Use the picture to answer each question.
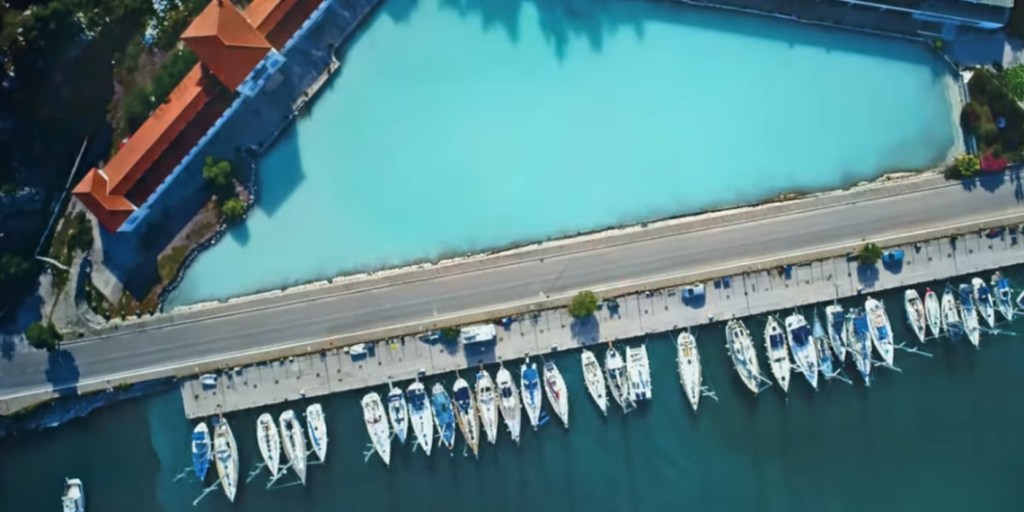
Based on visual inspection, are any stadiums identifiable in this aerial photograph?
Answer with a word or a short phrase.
No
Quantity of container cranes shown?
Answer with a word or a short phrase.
0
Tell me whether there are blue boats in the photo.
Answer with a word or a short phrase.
Yes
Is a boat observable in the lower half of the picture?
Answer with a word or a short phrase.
Yes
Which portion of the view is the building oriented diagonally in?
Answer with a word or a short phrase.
top left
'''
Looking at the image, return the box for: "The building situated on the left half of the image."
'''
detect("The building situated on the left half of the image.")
[73,0,342,232]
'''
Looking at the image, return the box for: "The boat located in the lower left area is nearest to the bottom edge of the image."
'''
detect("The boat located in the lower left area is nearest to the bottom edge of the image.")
[61,475,86,512]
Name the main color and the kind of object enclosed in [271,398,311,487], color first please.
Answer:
white boat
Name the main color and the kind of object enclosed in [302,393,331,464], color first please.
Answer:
white boat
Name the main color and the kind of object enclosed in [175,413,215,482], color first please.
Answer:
blue boat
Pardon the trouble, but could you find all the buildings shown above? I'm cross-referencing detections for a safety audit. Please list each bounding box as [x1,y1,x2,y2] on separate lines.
[73,0,342,232]
[842,0,1018,49]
